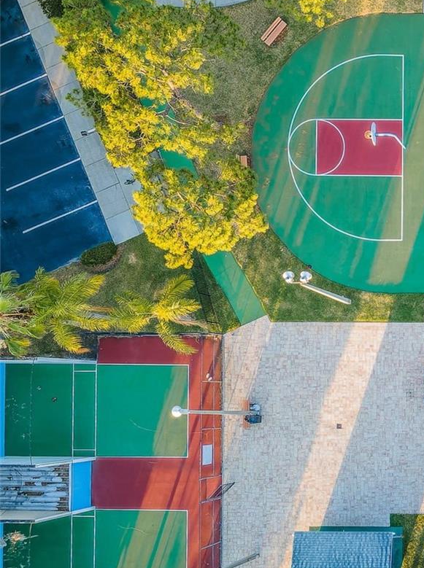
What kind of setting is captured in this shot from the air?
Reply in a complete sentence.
This looks like a sports ground.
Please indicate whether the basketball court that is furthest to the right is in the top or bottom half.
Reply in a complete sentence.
You can find the basketball court that is furthest to the right in the top half.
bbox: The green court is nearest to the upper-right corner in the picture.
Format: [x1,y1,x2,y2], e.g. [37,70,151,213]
[251,11,424,294]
